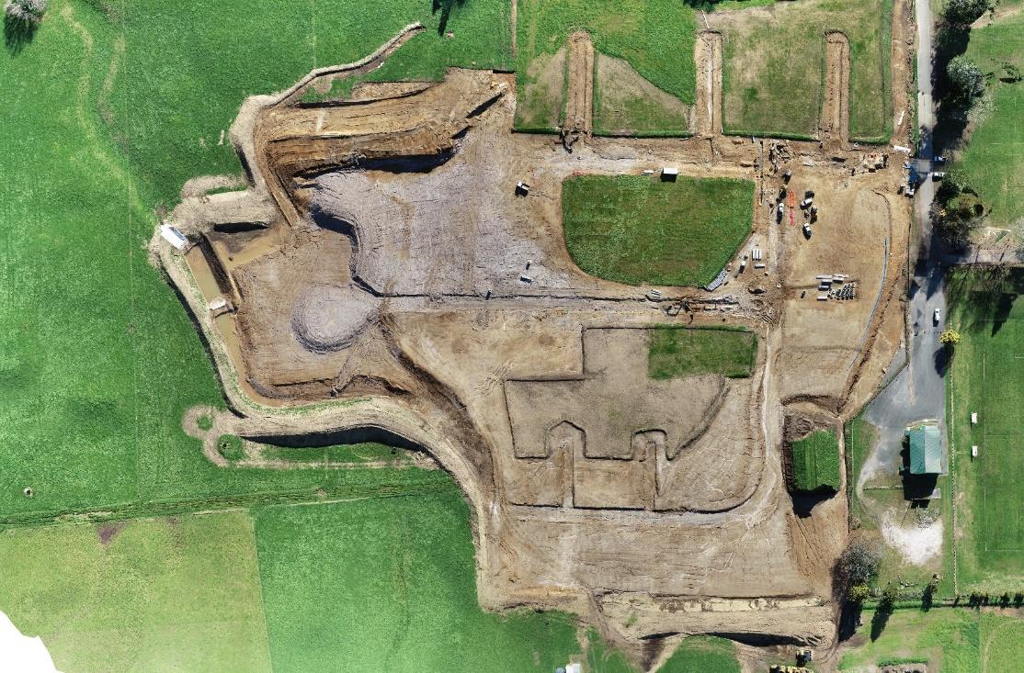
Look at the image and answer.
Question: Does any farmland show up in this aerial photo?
Yes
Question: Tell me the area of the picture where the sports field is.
right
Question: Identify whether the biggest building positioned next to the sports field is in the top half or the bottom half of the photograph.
bottom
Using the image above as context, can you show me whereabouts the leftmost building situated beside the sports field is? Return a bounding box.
[910,427,942,474]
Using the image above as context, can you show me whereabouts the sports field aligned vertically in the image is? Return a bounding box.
[956,0,1024,589]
